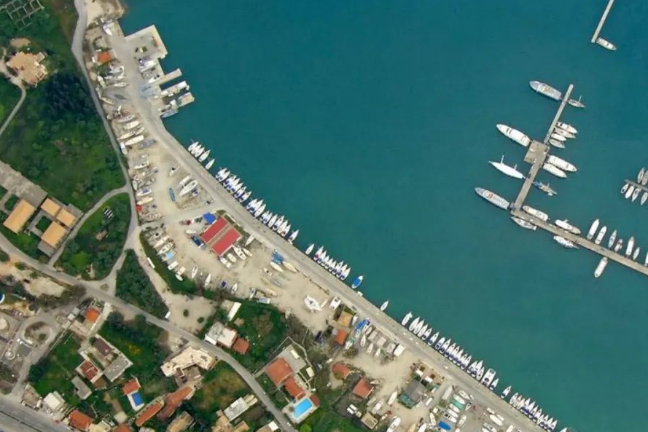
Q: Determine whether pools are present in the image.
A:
Yes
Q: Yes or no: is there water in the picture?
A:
Yes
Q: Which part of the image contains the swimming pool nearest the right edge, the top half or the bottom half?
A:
bottom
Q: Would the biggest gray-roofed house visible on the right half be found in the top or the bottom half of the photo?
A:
bottom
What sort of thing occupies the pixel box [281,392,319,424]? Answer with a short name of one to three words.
swimming pool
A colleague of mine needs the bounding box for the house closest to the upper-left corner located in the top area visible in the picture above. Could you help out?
[9,51,50,83]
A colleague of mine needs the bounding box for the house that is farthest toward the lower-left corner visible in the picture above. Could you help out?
[19,387,43,409]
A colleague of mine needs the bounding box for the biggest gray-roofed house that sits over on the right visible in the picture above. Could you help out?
[403,377,427,401]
